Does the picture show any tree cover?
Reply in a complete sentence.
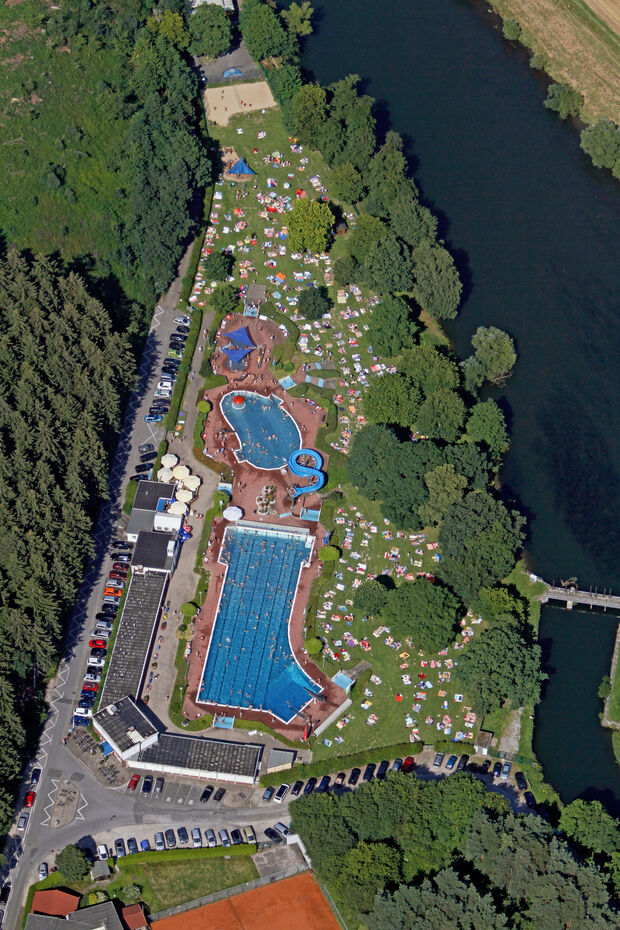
Yes, tree cover can be seen from above here.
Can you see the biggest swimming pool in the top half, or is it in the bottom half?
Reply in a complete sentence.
The biggest swimming pool is in the bottom half of the image.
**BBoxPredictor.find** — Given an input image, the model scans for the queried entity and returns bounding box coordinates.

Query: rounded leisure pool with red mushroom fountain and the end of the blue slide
[219,390,303,470]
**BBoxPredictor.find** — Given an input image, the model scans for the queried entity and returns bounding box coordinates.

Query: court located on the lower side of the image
[146,871,335,930]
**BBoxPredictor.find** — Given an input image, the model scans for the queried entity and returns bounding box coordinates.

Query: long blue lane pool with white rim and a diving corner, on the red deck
[193,526,326,726]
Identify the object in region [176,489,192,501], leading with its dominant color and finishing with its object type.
white umbrella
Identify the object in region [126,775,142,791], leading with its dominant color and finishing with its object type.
red car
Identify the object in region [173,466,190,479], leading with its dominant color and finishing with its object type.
white umbrella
